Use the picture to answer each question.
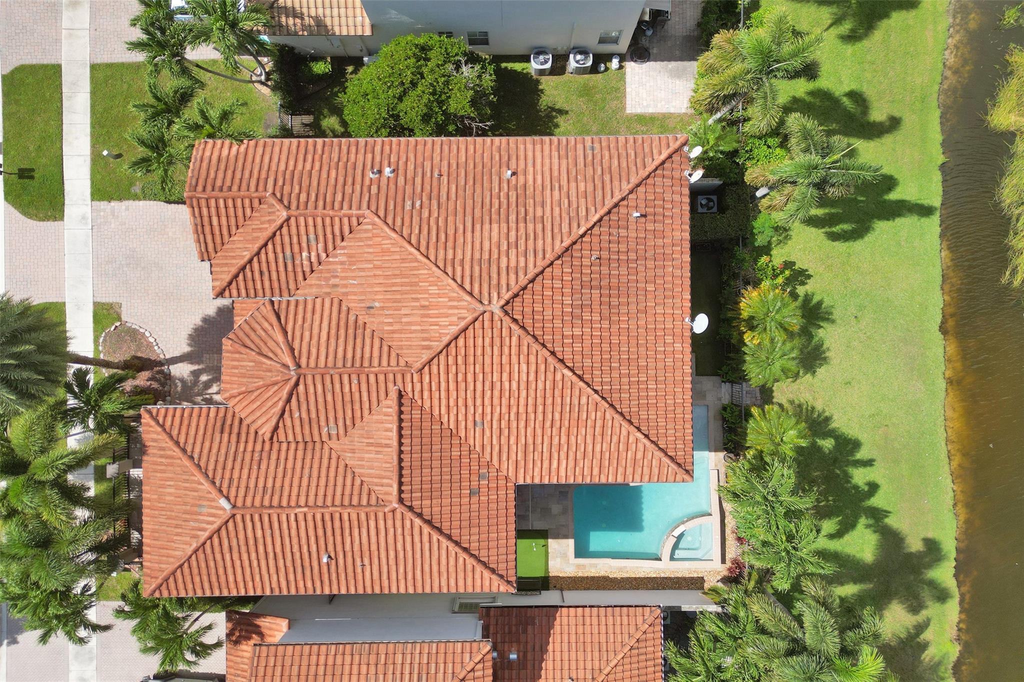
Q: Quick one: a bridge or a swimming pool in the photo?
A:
swimming pool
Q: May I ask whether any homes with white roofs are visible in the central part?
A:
No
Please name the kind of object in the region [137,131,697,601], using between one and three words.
house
